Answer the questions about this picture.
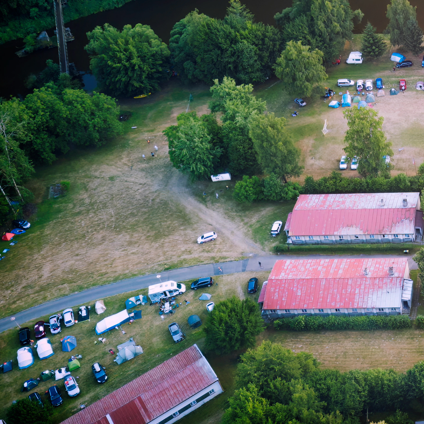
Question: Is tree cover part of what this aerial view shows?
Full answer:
Yes, the picture does contain tree cover.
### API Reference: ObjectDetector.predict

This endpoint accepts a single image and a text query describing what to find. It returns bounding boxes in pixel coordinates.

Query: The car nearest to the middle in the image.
[195,230,218,245]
